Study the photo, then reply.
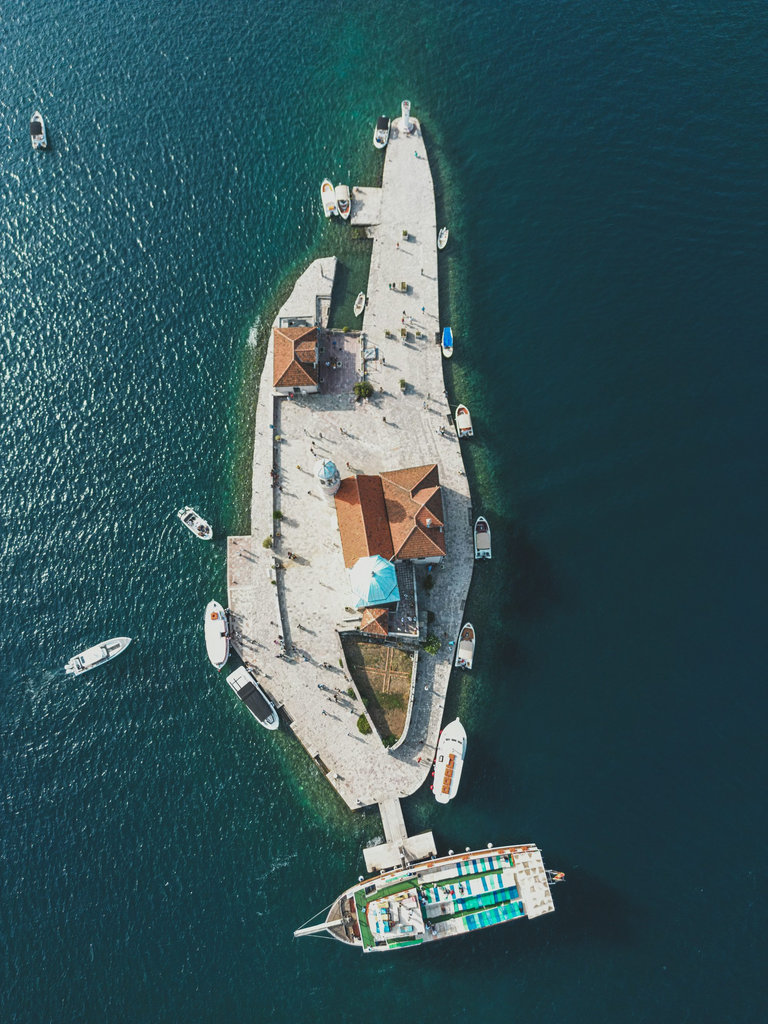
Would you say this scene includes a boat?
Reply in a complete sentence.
Yes, the frame does contain a boat.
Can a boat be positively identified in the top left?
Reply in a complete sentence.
Yes, a boat shows up in the top left.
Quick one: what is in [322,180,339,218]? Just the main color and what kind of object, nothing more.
white boat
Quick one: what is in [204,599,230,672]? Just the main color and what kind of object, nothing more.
white boat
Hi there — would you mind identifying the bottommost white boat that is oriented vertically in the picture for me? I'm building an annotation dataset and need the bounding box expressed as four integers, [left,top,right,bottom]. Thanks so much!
[432,716,466,803]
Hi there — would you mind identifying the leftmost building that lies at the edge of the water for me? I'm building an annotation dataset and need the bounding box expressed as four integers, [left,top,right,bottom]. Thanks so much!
[273,326,317,393]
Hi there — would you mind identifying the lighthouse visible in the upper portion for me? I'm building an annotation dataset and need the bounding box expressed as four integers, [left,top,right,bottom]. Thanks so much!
[397,100,414,140]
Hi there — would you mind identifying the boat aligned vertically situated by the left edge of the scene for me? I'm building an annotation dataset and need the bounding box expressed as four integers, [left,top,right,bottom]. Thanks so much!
[29,108,47,153]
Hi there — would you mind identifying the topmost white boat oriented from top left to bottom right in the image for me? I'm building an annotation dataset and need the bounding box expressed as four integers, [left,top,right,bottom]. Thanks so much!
[176,508,213,539]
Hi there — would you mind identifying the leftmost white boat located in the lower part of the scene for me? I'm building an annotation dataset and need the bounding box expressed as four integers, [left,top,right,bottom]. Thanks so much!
[66,639,132,676]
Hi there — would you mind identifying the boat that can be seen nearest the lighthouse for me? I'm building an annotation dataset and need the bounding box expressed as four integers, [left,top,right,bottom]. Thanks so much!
[375,112,391,150]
